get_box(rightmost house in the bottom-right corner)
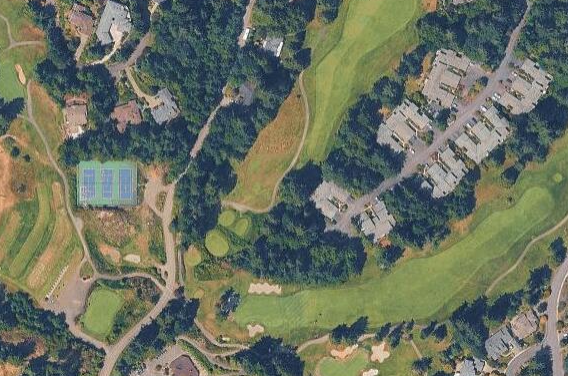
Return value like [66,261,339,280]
[508,309,541,339]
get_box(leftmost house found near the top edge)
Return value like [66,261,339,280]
[68,1,94,37]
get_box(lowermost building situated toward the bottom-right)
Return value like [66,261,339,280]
[454,356,488,376]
